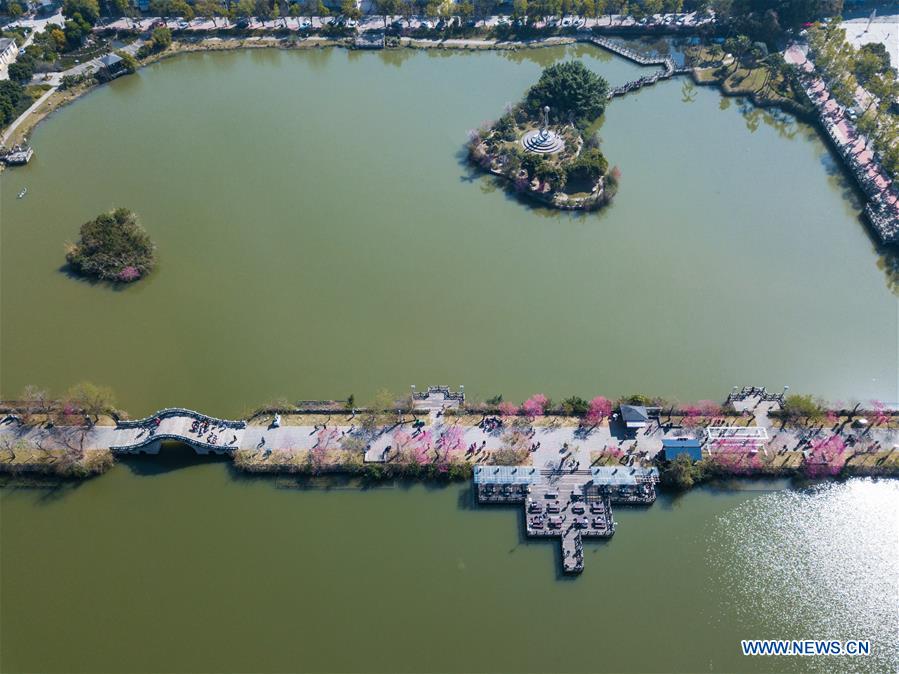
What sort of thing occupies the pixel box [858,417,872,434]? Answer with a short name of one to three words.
umbrella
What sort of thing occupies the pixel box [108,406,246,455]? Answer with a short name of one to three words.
bridge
